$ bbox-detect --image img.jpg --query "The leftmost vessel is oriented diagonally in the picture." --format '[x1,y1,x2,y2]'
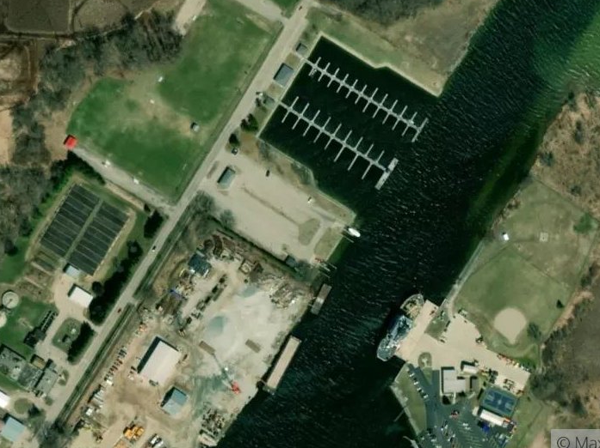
[200,433,217,448]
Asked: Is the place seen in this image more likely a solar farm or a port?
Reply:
port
